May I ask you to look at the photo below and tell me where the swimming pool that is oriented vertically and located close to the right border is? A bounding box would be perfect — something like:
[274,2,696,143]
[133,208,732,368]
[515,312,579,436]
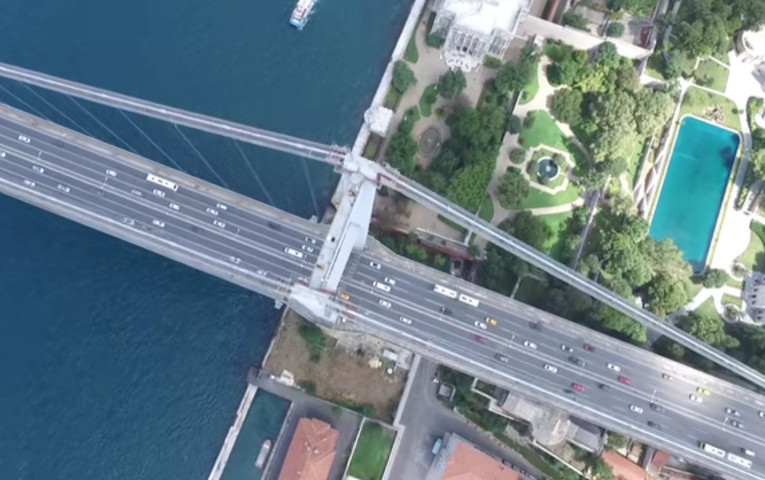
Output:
[648,113,744,278]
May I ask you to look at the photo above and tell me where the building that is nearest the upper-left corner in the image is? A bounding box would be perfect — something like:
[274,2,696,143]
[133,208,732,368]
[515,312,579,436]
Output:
[365,107,391,137]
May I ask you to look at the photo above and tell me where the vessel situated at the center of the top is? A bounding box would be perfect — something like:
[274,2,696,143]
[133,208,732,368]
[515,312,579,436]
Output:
[296,0,318,24]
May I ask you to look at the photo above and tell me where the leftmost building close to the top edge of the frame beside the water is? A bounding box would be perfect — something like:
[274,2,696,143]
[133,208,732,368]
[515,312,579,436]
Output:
[433,0,521,76]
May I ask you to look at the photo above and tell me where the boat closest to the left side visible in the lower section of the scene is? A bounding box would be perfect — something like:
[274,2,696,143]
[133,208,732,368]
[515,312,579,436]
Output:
[255,439,270,469]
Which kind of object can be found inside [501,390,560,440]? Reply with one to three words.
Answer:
building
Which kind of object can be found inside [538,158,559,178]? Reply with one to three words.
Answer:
fountain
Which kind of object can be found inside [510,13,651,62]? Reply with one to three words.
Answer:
building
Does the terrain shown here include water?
Yes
